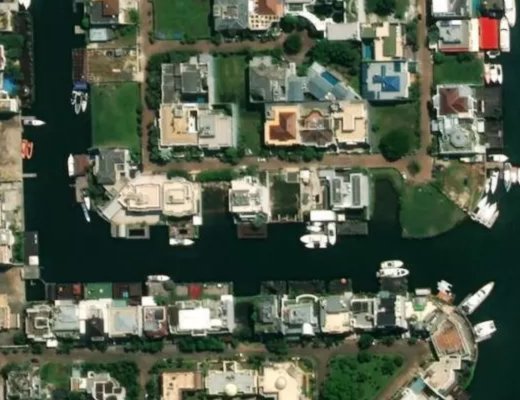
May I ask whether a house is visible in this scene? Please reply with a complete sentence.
Yes, a house appears in the view.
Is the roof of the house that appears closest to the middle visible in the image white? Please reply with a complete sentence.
Yes, the roof of the house that appears closest to the middle is white.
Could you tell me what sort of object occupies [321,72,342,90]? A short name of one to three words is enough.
swimming pool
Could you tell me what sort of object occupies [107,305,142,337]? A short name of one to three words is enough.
house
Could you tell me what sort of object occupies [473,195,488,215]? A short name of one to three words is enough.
boat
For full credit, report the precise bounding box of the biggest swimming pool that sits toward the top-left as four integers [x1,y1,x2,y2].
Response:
[3,78,16,92]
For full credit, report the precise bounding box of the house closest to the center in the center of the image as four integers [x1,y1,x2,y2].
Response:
[230,176,263,223]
